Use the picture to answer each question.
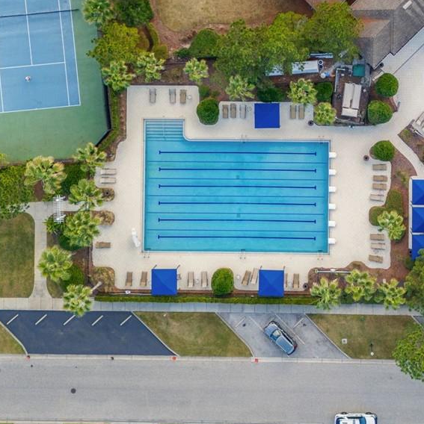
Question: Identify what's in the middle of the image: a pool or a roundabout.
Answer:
pool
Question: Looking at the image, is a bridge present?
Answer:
No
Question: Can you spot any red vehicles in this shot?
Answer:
No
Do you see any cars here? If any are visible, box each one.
[334,412,377,424]
[262,319,299,357]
